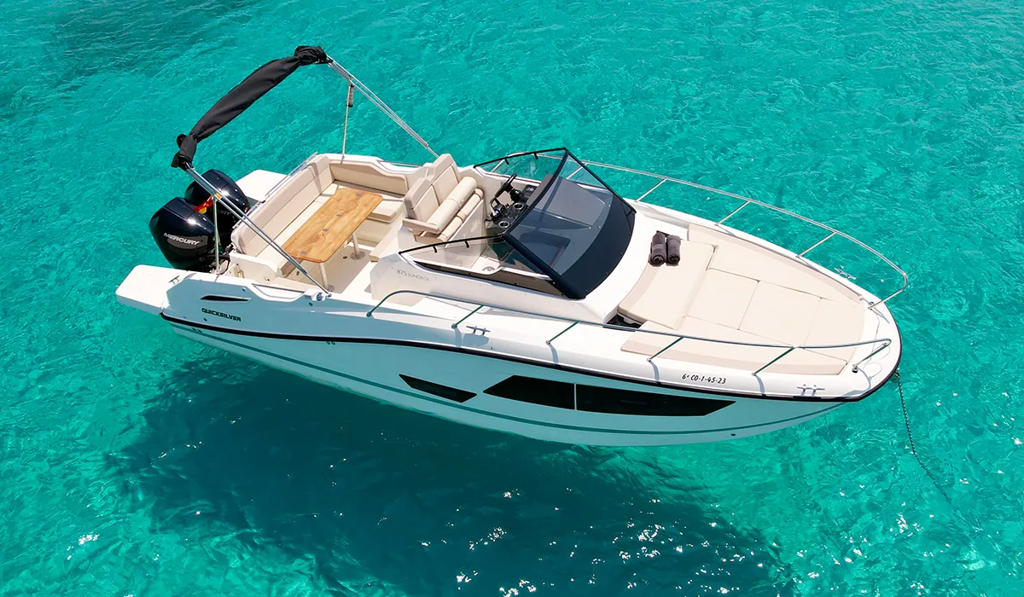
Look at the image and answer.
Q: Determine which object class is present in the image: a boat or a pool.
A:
boat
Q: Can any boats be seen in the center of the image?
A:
Yes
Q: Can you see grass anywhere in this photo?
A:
No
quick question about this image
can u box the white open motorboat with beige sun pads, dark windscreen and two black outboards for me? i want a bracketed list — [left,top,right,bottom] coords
[119,39,909,445]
